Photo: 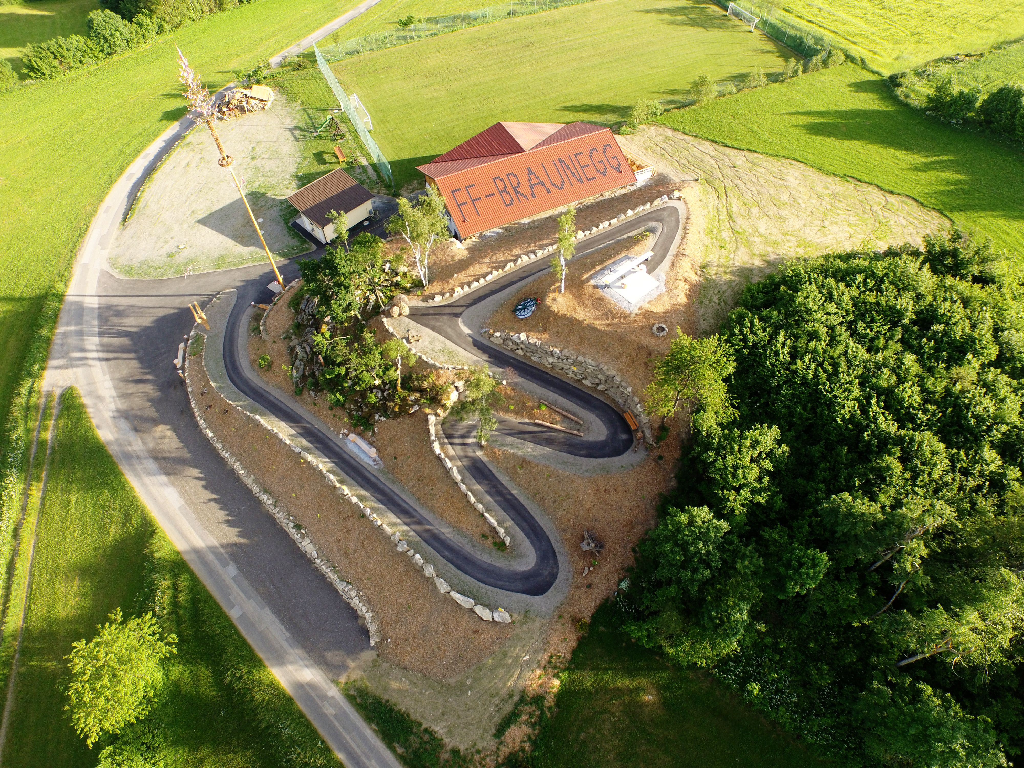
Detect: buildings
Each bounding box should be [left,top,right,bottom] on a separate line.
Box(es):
[287,167,376,239]
[412,119,637,241]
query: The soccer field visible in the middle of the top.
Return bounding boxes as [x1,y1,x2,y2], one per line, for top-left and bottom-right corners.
[330,0,803,195]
